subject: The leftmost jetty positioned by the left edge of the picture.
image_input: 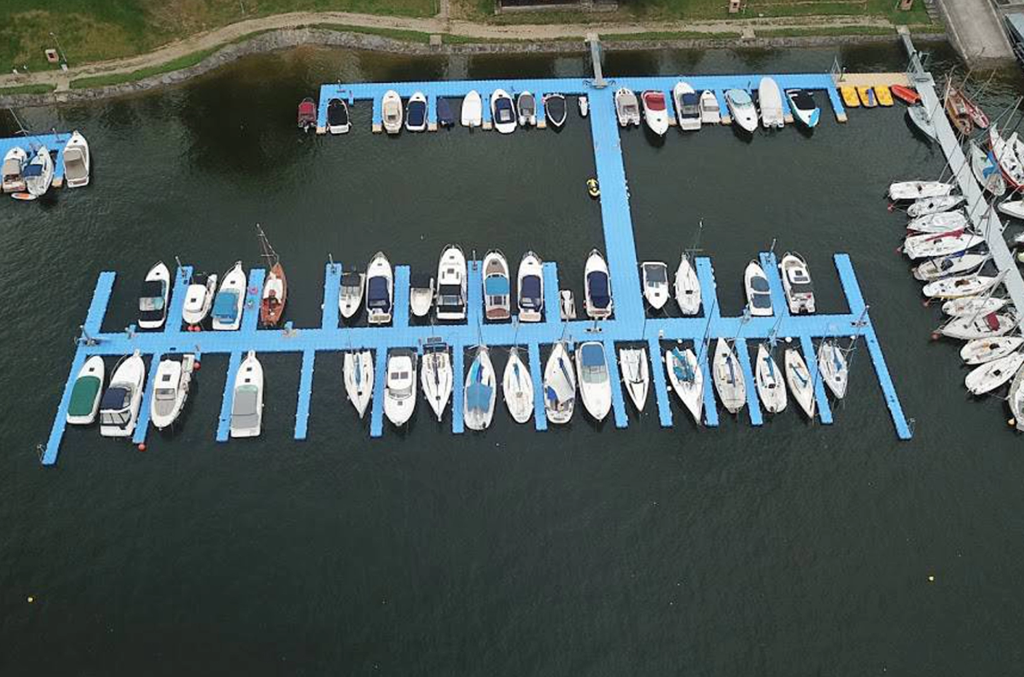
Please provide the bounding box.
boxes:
[0,133,72,189]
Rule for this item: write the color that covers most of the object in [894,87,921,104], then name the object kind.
red boat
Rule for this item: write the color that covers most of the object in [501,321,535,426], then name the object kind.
white boat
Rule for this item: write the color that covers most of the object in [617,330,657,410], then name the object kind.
white boat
